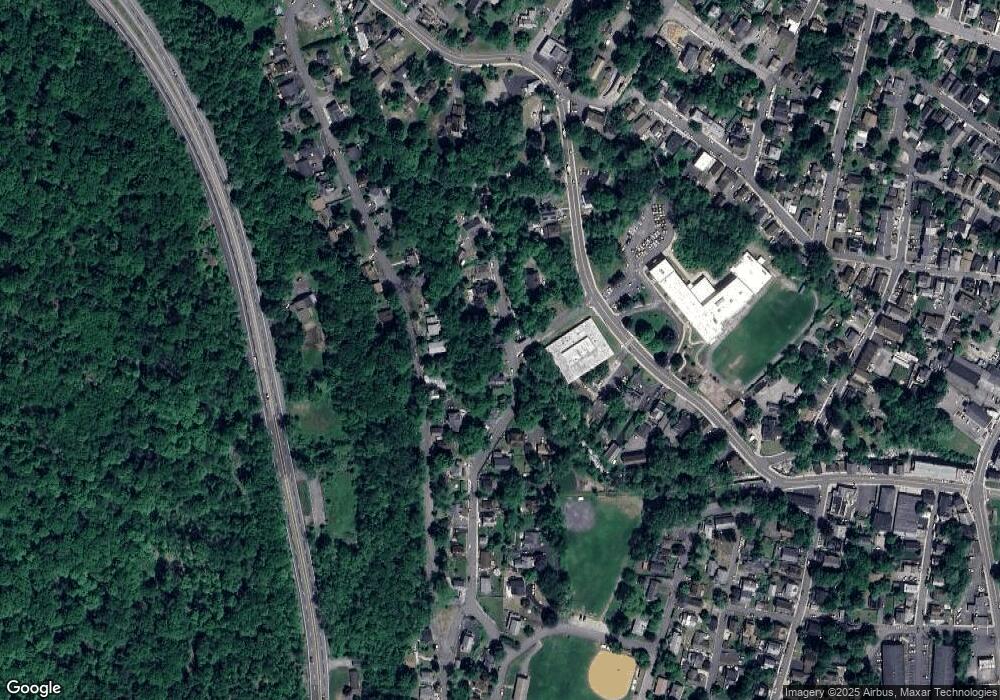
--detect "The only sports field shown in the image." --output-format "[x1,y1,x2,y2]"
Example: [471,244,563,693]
[712,275,818,389]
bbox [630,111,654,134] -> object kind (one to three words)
house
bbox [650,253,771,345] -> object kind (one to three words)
building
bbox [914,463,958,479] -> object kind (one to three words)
building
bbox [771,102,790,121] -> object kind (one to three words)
house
